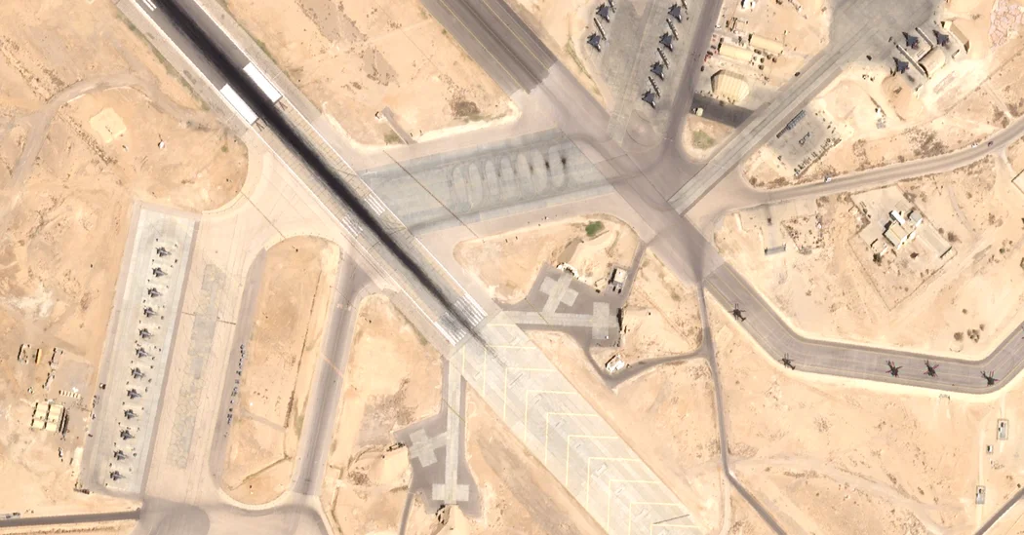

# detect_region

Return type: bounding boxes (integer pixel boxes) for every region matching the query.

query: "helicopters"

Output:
[888,361,902,377]
[983,371,999,387]
[779,357,795,369]
[729,307,746,319]
[924,360,937,376]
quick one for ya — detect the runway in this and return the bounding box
[134,0,501,360]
